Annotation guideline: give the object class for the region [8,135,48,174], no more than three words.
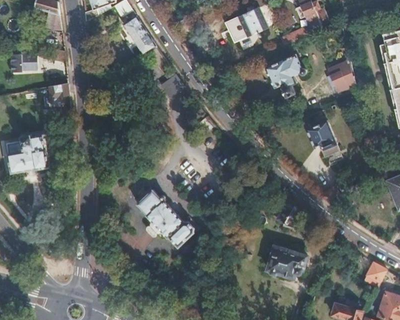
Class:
house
